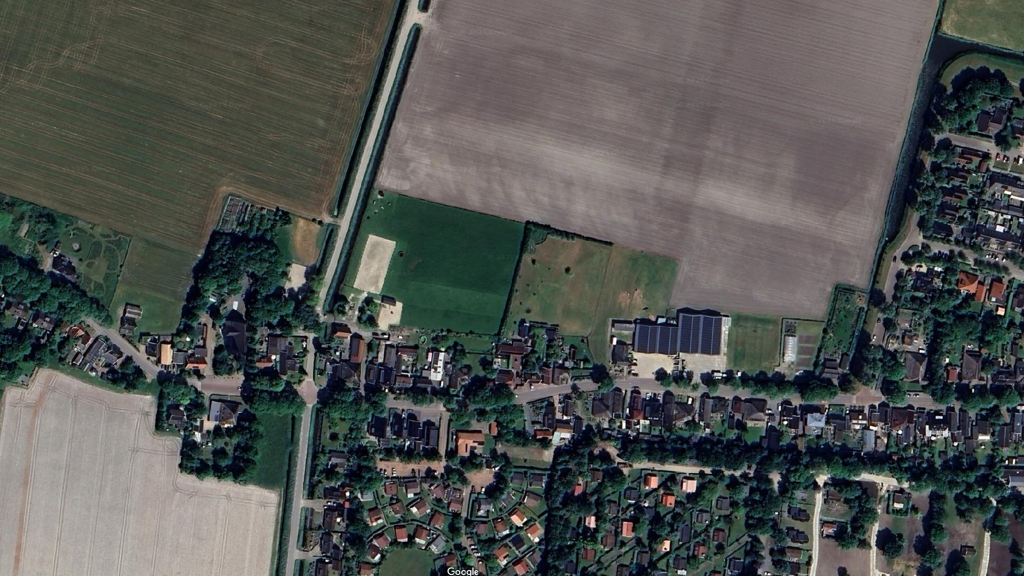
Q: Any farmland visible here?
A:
Yes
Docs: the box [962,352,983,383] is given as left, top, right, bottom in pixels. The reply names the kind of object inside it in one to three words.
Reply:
house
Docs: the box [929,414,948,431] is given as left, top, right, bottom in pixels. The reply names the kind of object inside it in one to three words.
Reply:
house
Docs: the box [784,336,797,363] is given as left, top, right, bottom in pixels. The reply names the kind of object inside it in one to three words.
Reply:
greenhouse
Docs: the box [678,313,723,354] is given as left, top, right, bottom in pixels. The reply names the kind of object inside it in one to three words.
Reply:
building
